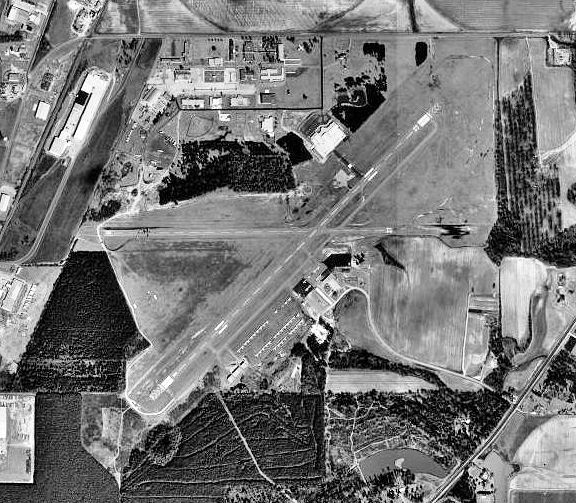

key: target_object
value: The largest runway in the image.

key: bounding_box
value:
[145,100,443,406]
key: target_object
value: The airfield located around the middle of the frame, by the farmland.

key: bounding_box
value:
[97,37,497,426]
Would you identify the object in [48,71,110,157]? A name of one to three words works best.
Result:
building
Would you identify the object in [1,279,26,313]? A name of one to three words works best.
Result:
building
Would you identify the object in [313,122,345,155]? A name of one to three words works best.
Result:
hangar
